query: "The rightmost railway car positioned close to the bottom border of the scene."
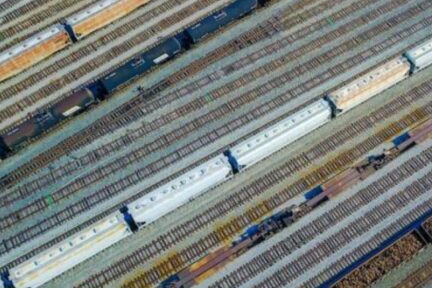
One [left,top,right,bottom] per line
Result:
[4,206,135,288]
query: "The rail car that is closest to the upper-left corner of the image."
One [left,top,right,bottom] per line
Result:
[0,23,74,84]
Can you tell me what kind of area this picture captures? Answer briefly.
rail yard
